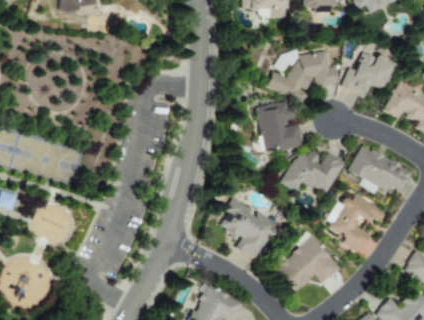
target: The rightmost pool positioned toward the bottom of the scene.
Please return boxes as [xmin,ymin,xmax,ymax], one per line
[296,194,315,207]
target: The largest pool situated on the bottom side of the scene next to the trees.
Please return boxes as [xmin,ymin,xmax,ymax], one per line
[248,192,269,210]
